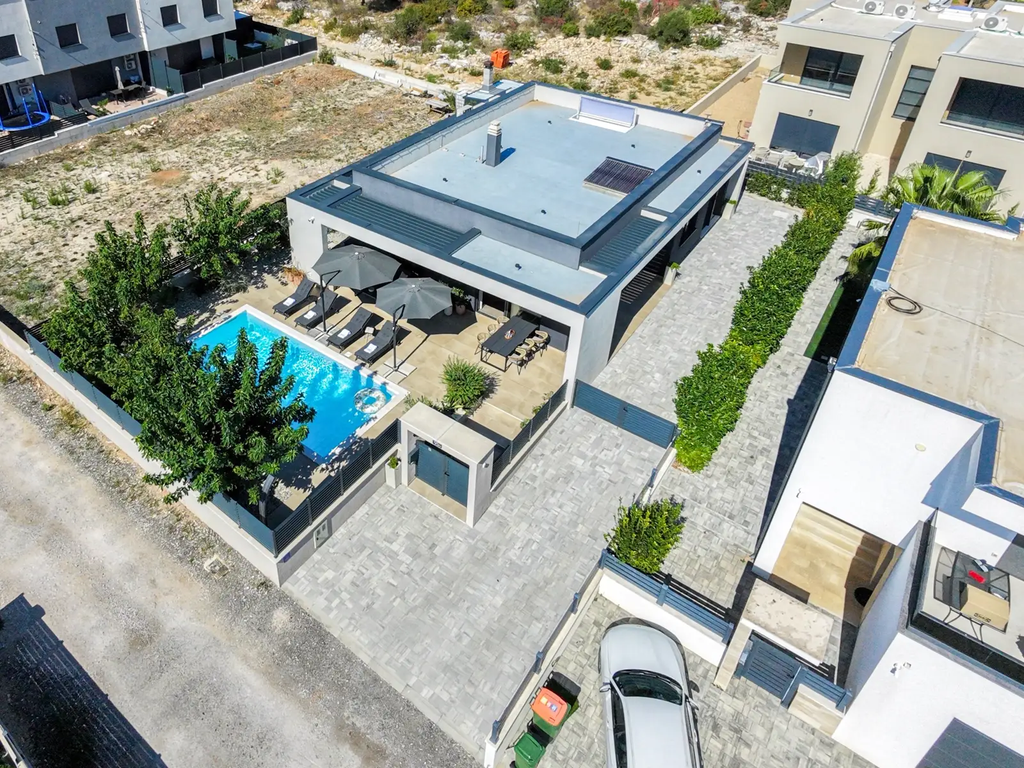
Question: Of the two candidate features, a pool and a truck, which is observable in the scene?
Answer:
pool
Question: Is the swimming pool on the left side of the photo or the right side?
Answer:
left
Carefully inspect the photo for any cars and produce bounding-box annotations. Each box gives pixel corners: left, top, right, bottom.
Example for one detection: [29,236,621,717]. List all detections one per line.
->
[602,627,705,768]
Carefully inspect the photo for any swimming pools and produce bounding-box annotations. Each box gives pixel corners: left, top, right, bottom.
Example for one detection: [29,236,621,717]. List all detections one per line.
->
[158,307,409,464]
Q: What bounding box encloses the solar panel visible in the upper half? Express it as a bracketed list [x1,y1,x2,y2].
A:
[577,154,659,201]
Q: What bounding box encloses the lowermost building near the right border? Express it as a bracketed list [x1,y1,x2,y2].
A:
[742,202,1024,768]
